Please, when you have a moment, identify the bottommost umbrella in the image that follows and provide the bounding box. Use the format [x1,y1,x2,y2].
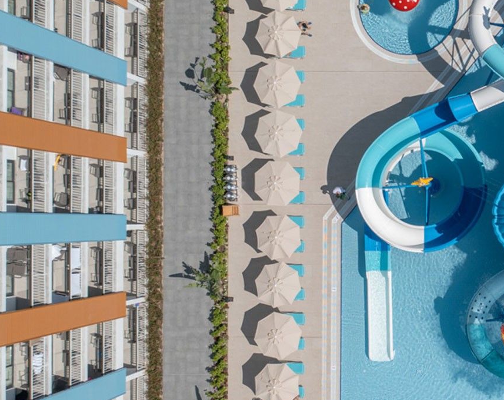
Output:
[255,360,301,400]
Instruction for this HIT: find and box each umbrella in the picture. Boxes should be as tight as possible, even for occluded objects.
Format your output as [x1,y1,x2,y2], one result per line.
[258,110,303,155]
[261,0,300,11]
[256,261,302,307]
[257,213,304,260]
[255,158,303,206]
[256,312,301,357]
[256,10,303,57]
[255,360,301,400]
[255,61,302,107]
